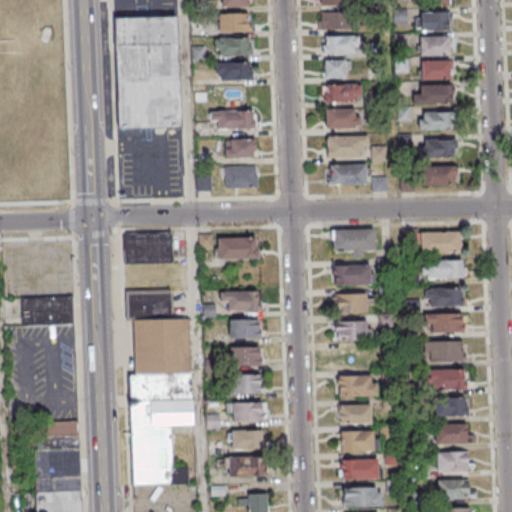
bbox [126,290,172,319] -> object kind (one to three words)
building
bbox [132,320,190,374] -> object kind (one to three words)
building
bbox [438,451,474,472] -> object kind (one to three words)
house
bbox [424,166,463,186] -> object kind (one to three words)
house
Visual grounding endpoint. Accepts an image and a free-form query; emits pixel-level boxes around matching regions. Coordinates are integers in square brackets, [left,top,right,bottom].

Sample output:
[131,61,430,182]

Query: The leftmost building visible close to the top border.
[115,16,181,127]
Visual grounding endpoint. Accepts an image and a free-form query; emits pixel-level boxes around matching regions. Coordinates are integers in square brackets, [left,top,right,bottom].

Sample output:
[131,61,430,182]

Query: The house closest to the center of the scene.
[217,237,262,259]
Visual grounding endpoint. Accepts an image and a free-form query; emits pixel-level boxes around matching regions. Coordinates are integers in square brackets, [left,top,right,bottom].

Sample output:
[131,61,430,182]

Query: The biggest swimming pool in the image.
[224,88,243,100]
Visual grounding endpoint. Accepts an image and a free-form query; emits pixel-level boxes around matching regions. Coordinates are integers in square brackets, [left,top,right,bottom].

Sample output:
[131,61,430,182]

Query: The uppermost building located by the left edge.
[21,296,72,324]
